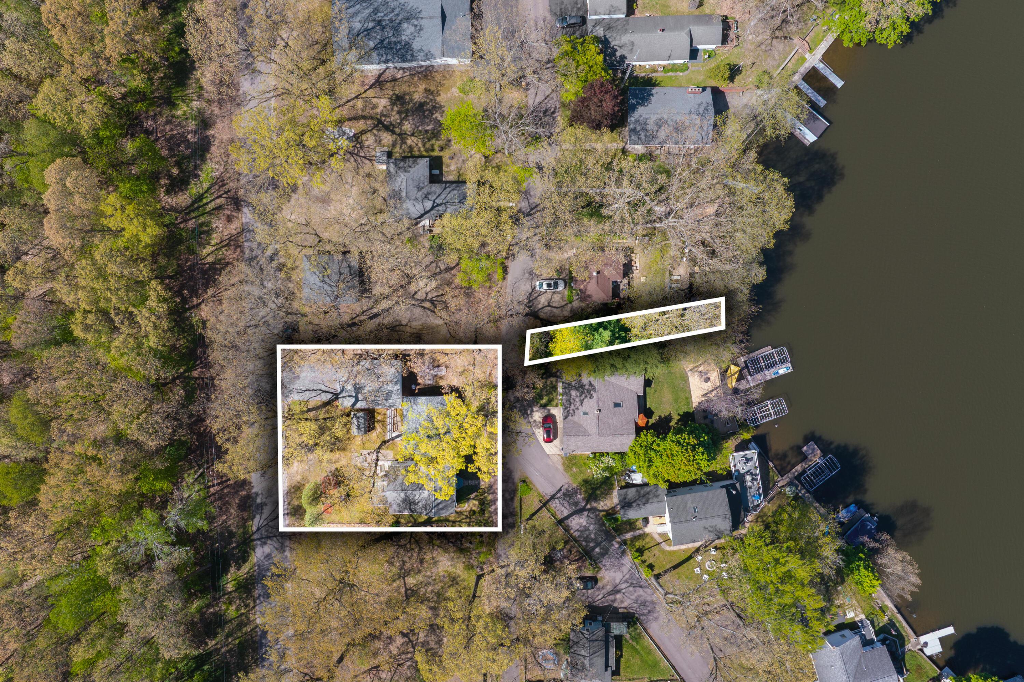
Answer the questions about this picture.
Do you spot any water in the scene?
Yes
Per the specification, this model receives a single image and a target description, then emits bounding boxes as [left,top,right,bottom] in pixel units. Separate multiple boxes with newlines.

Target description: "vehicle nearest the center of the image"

[535,278,565,293]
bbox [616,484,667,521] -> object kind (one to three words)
building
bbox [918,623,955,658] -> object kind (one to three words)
pier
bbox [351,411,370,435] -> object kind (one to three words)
shed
